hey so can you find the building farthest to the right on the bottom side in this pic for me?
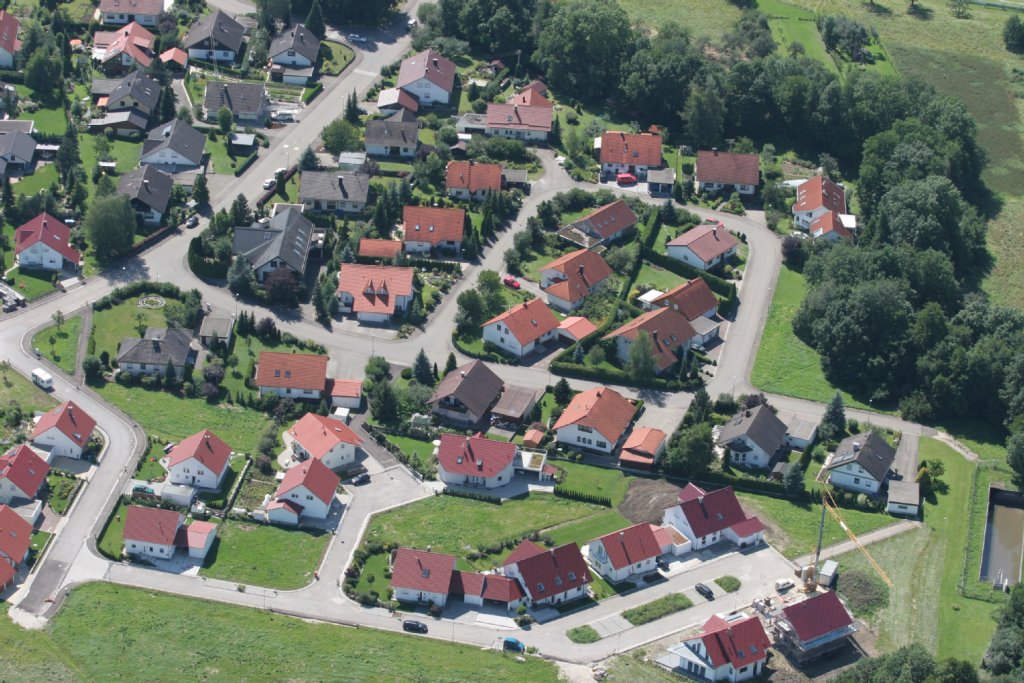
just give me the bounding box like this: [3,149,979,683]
[888,481,920,516]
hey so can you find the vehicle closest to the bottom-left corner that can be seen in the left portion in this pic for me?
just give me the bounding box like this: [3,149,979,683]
[130,482,157,496]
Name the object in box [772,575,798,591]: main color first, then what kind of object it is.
white vehicle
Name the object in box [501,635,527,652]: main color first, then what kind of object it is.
blue vehicle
